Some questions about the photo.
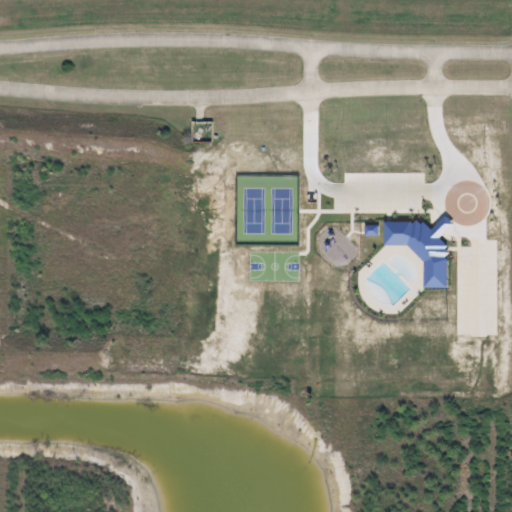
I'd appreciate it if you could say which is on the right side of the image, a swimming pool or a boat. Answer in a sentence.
What appears on the right side of the image is a swimming pool.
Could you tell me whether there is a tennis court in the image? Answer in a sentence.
Yes, a tennis court appears in the view.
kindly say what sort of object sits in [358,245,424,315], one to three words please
swimming pool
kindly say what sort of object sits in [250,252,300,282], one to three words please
basketball court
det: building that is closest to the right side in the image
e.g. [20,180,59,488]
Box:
[384,216,452,288]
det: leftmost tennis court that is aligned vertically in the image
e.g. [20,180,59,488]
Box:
[236,172,268,244]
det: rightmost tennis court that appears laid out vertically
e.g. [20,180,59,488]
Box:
[268,172,299,244]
